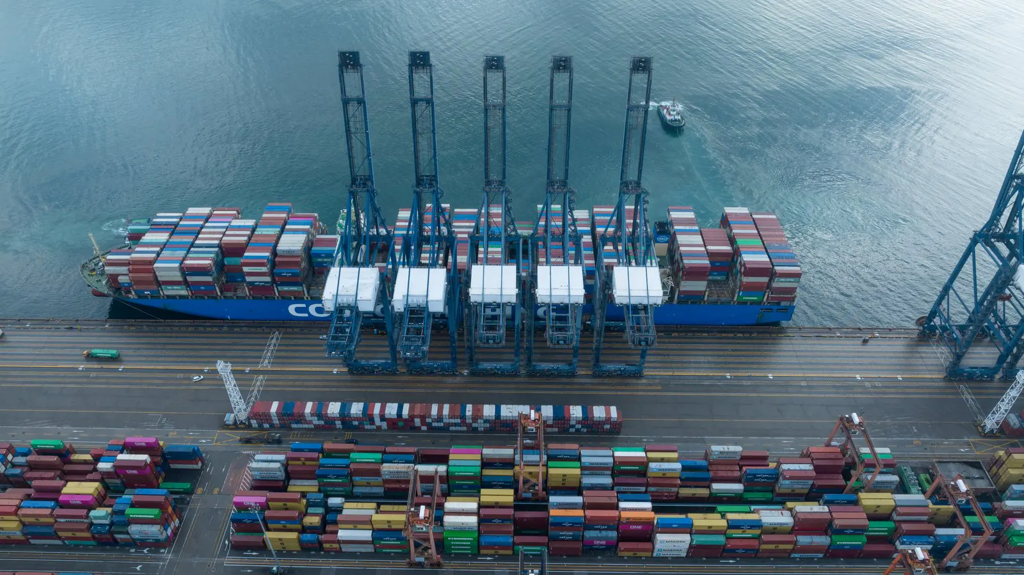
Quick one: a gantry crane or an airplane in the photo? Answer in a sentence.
The one in the frame is a gantry crane.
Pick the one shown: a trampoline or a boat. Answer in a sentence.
There is a boat in the scene.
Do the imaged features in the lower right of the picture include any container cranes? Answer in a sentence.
Yes, a container crane is visible in the lower right of the picture.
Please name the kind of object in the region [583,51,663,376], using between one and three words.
container crane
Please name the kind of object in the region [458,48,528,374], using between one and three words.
container crane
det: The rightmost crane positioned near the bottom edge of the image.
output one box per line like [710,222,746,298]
[922,469,999,572]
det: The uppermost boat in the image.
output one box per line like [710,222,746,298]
[655,95,686,125]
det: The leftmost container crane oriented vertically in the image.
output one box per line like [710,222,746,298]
[319,47,401,373]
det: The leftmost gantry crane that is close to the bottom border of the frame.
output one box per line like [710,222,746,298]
[408,464,447,567]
